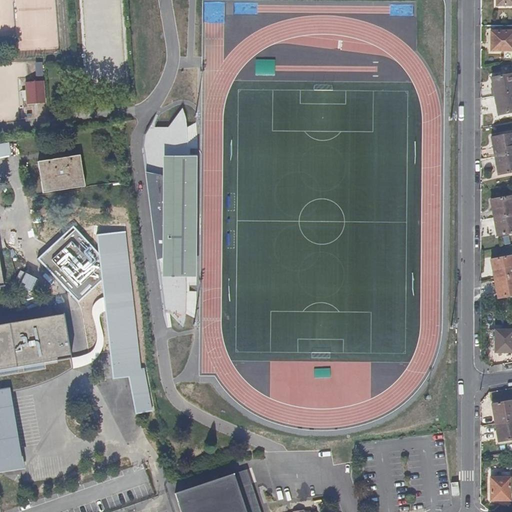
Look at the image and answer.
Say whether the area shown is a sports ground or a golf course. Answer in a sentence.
It's a sports ground.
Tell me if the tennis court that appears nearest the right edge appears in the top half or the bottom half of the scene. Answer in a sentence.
The top half of the photo is where the tennis court that appears nearest the right edge is.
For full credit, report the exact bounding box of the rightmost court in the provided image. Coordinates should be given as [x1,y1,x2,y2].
[16,0,58,50]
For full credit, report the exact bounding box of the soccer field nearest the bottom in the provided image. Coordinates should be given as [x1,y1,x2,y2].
[222,80,421,362]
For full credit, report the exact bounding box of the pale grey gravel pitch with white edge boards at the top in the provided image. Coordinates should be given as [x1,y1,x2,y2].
[80,0,126,70]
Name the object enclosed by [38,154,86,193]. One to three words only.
house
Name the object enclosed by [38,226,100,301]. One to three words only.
building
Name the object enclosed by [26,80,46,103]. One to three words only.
shed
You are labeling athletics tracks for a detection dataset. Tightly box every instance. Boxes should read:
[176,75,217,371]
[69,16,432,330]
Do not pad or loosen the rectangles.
[201,12,442,429]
